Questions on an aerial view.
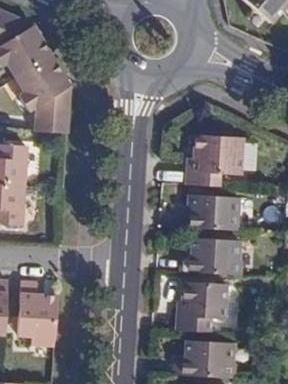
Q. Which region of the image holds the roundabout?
top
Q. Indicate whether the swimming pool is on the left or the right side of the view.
right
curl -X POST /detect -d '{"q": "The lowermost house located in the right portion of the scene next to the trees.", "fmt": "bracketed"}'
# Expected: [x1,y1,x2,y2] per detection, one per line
[182,341,238,378]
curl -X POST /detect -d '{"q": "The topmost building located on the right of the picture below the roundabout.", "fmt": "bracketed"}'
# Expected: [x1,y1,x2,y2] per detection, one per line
[184,135,257,187]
